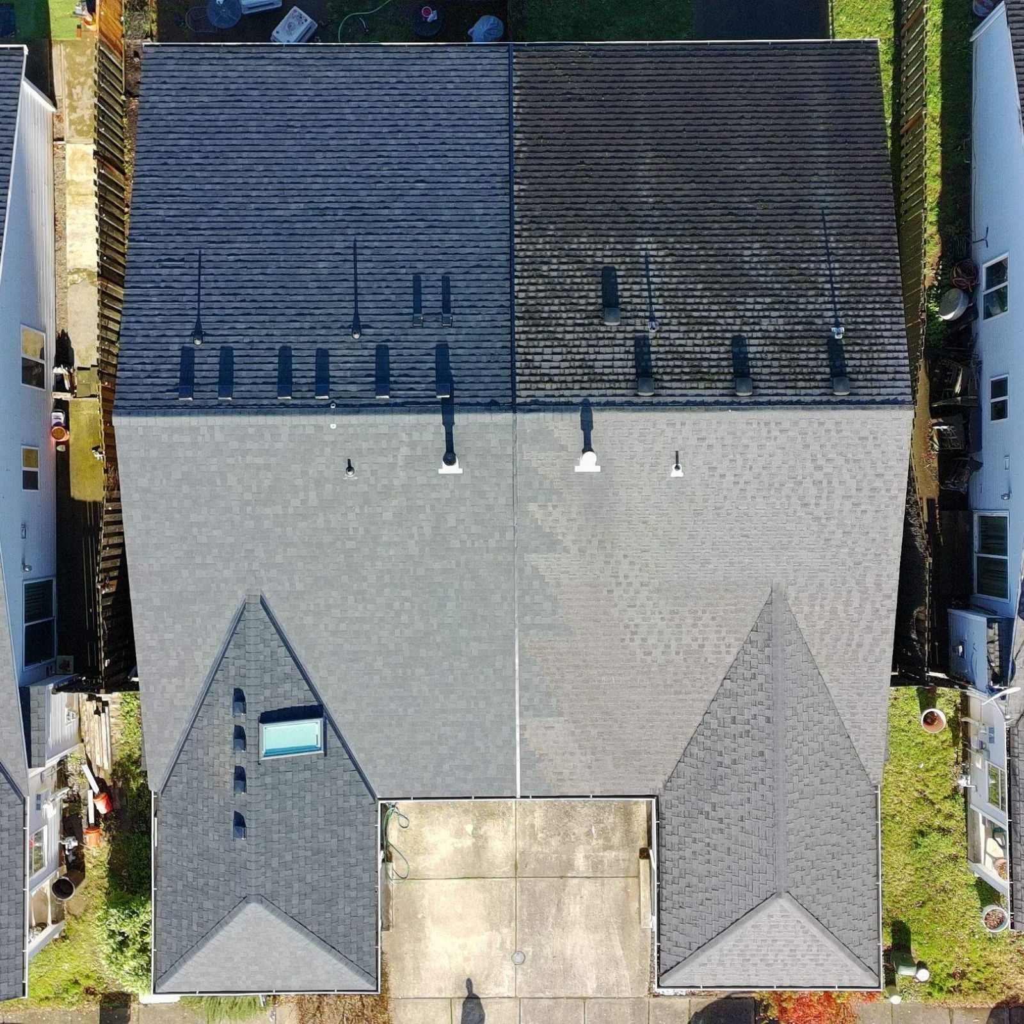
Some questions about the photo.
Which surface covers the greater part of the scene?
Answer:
buildings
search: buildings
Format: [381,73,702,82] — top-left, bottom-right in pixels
[945,0,1024,927]
[114,36,914,997]
[0,42,81,998]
